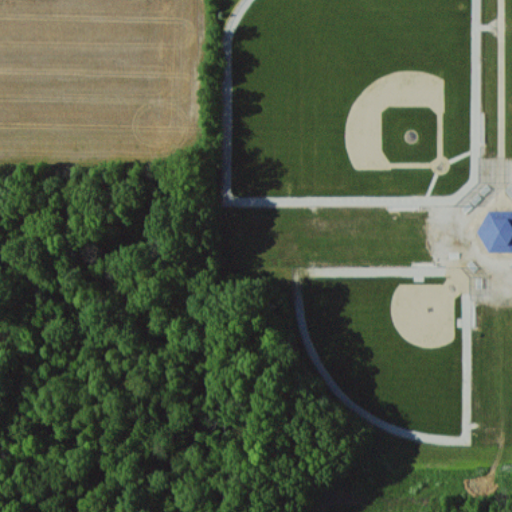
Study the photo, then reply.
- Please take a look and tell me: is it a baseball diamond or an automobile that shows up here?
baseball diamond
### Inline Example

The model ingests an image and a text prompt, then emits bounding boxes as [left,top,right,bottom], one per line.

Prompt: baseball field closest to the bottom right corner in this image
[294,266,480,446]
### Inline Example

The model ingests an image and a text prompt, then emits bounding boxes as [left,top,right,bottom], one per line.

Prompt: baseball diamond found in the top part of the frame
[223,0,482,211]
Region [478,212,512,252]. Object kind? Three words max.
building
